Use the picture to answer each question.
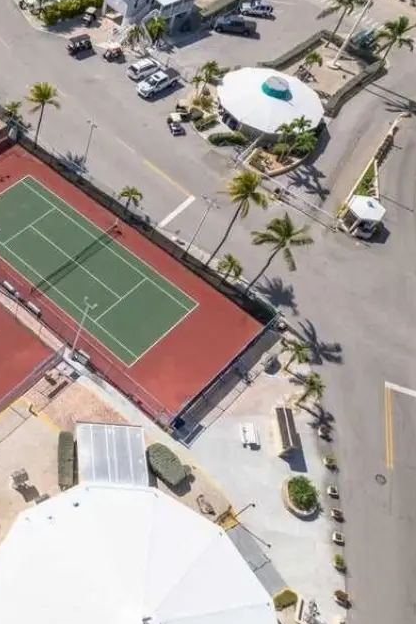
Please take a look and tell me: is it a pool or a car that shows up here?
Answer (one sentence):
Visible in the photo is a car.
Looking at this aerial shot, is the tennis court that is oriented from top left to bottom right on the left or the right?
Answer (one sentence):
It is on the left.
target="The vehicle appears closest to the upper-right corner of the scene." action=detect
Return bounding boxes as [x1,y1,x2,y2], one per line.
[239,0,276,17]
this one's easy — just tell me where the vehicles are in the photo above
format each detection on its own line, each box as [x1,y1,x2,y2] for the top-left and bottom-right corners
[104,39,124,59]
[175,94,197,116]
[169,110,186,133]
[127,57,163,80]
[68,31,92,52]
[214,16,260,37]
[82,5,98,26]
[138,69,183,98]
[239,0,276,17]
